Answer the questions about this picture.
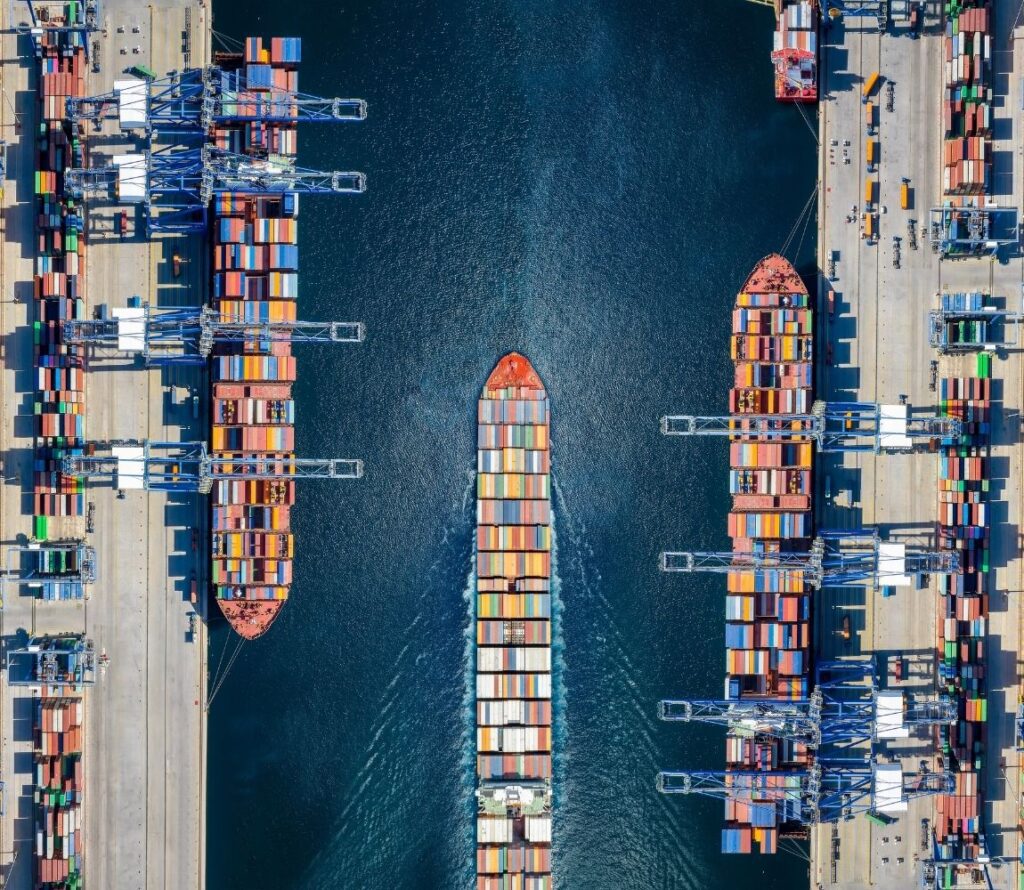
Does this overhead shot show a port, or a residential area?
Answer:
port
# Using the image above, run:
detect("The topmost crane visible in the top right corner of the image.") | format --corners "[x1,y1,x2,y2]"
[811,0,886,20]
